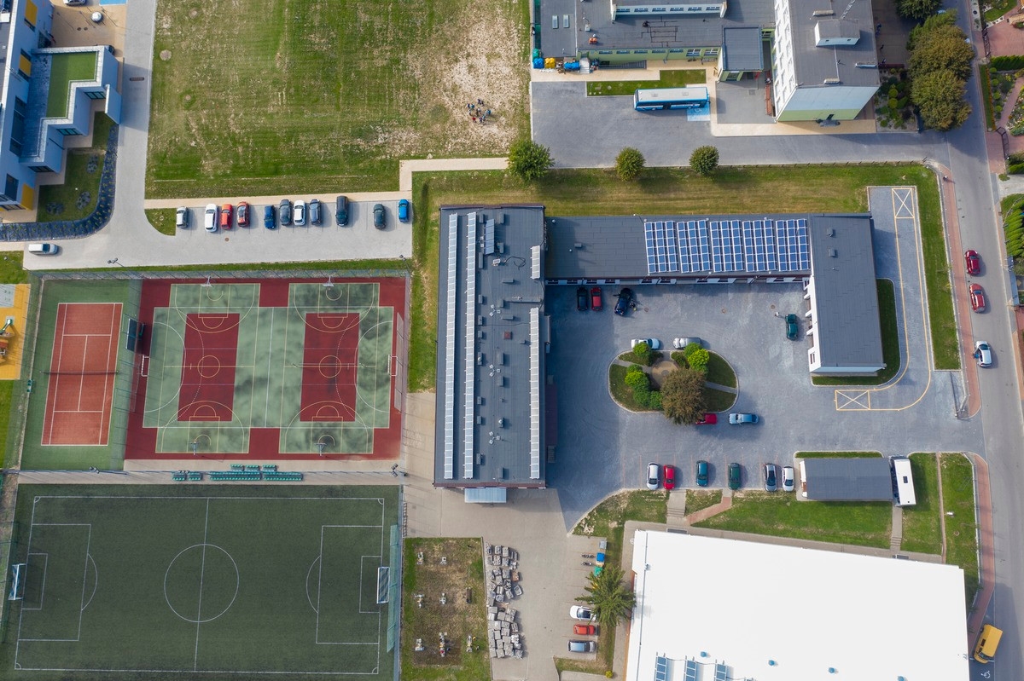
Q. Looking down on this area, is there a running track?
No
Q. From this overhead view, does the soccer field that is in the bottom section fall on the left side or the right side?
left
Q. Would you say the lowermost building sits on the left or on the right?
right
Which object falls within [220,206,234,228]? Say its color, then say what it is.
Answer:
red car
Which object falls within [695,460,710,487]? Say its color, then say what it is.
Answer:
blue car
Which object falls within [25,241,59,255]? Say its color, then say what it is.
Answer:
white vehicle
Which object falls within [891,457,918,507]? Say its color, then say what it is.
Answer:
white vehicle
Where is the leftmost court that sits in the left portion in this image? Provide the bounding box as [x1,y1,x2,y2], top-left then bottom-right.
[20,279,141,470]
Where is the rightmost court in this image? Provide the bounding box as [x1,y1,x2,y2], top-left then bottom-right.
[125,278,408,459]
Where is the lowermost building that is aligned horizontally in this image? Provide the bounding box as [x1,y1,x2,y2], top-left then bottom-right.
[623,530,970,681]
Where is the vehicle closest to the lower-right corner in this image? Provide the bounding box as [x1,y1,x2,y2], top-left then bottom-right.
[975,622,1002,665]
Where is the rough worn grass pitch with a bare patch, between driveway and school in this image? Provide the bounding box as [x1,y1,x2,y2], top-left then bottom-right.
[145,0,531,198]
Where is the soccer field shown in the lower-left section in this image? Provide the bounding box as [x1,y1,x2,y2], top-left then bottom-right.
[4,486,401,681]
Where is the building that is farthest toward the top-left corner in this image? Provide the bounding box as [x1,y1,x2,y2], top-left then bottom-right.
[0,0,117,211]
